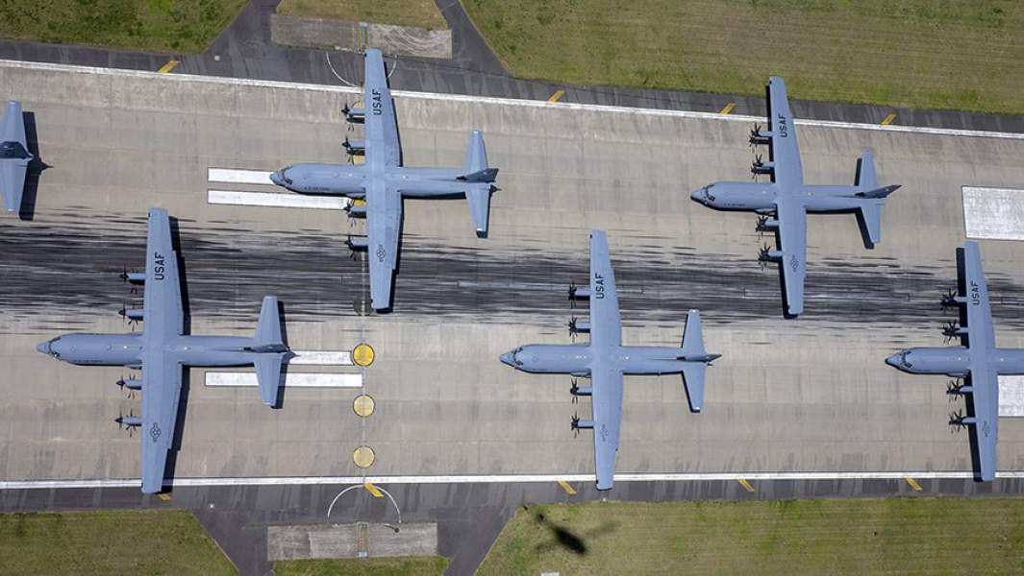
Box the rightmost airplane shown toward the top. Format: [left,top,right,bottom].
[690,76,899,313]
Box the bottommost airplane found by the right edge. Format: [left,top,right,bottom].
[887,243,1024,480]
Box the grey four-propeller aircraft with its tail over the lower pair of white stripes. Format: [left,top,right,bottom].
[38,209,291,492]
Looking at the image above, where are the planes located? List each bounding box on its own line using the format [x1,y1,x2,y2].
[38,209,291,492]
[269,49,499,308]
[690,76,899,313]
[497,230,721,489]
[887,243,1024,480]
[0,101,33,211]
